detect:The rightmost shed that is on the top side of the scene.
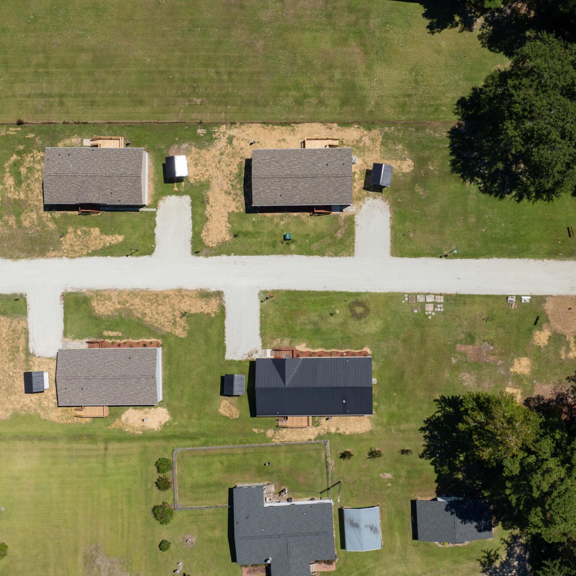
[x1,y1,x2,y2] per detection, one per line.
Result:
[371,162,393,188]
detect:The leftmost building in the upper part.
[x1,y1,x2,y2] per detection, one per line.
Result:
[42,137,148,208]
